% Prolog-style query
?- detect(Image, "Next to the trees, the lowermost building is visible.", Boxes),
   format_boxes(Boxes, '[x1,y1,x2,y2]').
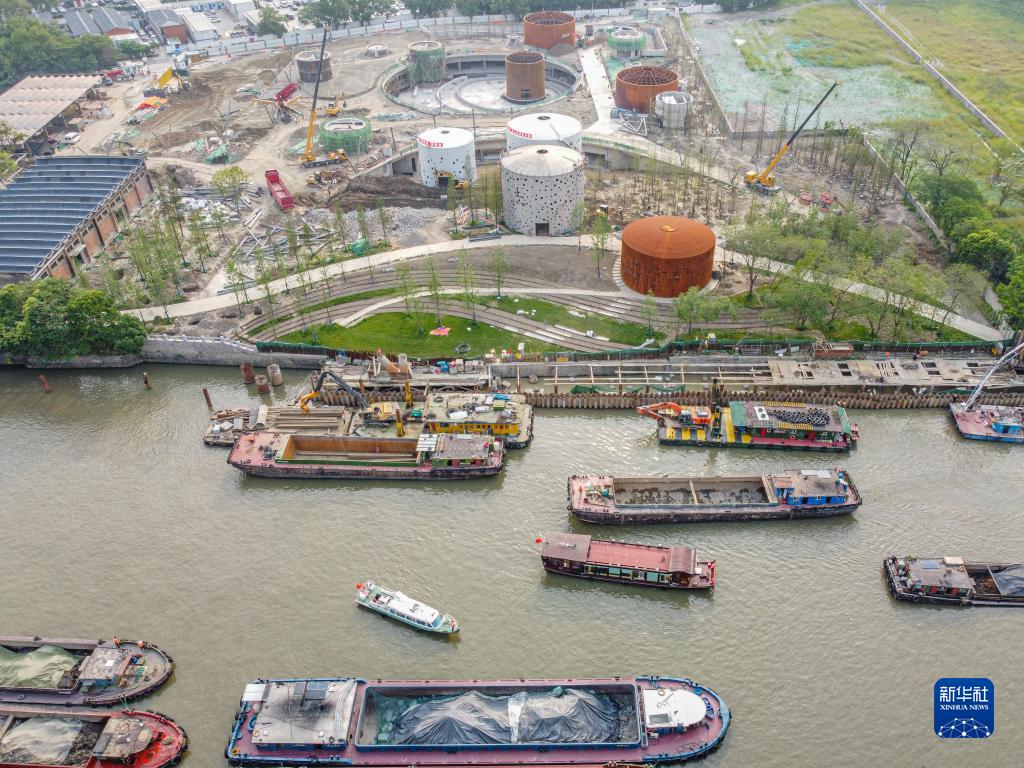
[0,153,154,289]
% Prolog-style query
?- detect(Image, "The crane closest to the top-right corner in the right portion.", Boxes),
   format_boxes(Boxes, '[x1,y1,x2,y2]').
[737,81,841,196]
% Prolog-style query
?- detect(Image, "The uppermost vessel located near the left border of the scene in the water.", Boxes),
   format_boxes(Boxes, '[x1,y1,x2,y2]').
[0,637,178,710]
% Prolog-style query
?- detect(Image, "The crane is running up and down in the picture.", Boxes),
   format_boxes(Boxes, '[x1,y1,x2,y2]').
[300,26,353,171]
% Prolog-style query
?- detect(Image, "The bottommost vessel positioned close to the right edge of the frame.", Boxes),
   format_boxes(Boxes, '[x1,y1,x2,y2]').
[881,552,1024,605]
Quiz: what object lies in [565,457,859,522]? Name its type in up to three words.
ship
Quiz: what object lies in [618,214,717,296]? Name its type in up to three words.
storage tank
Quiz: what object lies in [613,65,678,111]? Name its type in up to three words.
storage tank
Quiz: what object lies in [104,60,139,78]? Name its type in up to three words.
vehicle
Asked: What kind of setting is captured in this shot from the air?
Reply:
industrial area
